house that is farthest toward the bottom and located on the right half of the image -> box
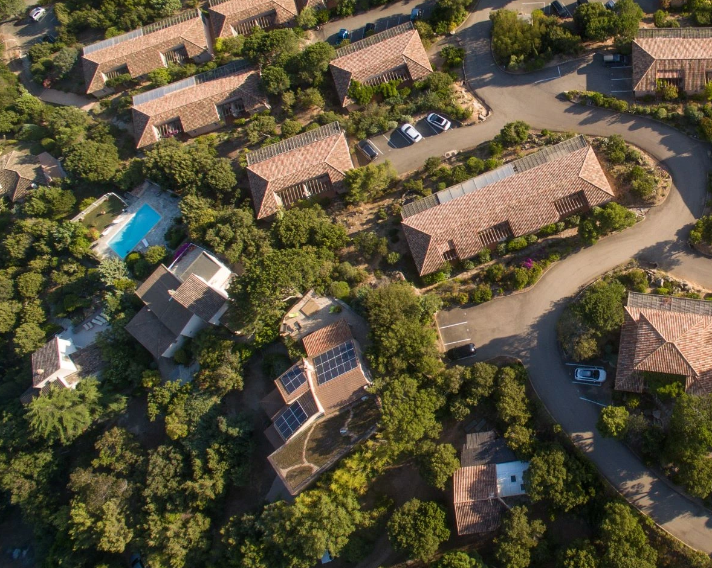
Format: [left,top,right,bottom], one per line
[455,461,529,536]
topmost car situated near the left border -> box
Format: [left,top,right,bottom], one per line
[24,6,51,24]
